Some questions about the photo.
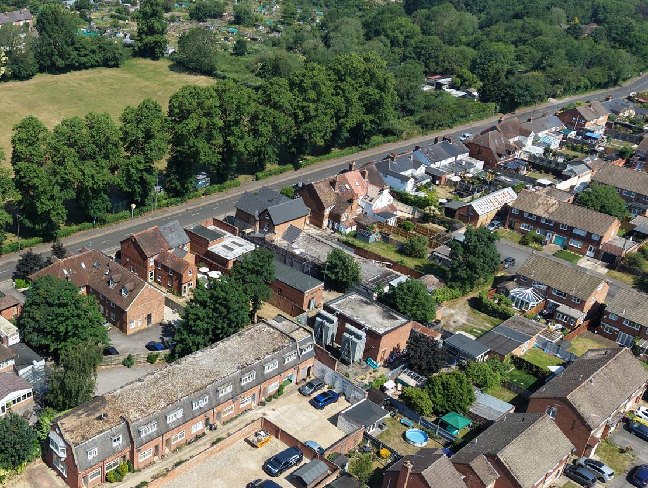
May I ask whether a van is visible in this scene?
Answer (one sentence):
Yes, the frame does contain a van.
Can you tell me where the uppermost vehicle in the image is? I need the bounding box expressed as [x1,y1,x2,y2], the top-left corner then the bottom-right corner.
[459,128,473,140]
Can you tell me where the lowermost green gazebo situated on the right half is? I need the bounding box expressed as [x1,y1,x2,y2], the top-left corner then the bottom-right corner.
[439,418,477,443]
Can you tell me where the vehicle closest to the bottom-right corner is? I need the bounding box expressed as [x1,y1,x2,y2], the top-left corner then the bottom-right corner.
[628,466,648,488]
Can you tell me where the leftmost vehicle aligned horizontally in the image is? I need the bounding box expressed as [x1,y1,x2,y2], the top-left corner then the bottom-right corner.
[96,344,124,356]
